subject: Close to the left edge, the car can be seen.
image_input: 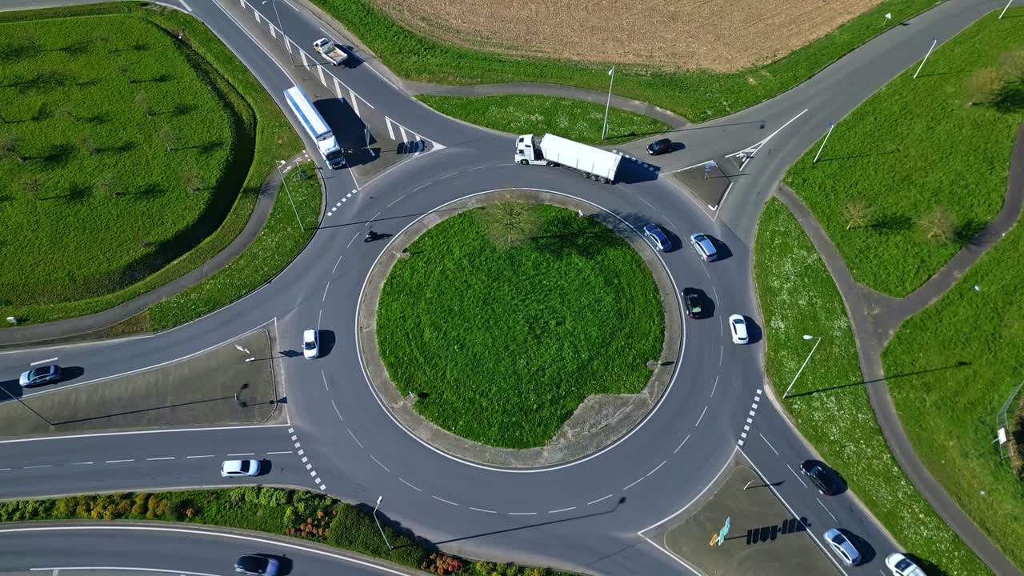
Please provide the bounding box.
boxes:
[20,365,62,388]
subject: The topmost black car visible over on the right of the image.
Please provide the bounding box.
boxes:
[645,136,674,155]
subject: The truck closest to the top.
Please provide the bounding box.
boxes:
[315,36,346,62]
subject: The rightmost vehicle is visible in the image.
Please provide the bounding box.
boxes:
[884,550,922,576]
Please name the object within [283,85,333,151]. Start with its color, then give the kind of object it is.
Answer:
white trailer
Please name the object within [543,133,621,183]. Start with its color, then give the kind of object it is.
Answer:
white trailer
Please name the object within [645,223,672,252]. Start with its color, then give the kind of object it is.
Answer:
blue car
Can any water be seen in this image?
No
